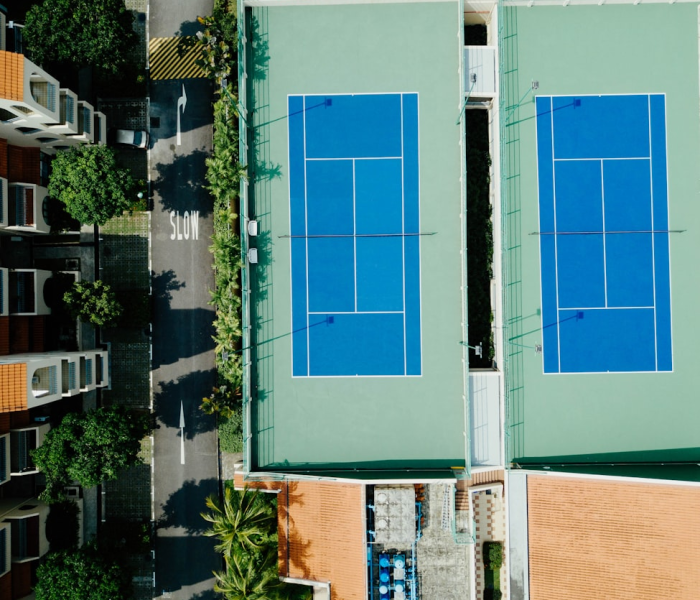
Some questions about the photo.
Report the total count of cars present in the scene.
1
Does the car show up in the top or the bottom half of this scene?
top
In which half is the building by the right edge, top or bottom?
bottom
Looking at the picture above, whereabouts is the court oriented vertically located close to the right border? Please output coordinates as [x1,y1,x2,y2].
[483,3,700,467]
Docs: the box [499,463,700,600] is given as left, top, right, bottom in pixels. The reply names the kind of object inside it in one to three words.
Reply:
building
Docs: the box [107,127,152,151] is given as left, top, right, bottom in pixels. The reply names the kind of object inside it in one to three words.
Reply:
car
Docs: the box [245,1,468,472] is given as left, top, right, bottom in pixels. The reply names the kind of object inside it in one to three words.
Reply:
tennis court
